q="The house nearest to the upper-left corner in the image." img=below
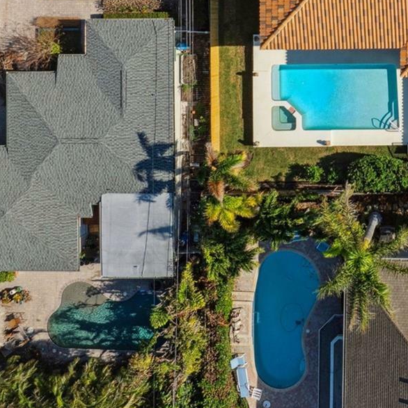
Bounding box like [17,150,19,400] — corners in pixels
[0,17,186,277]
